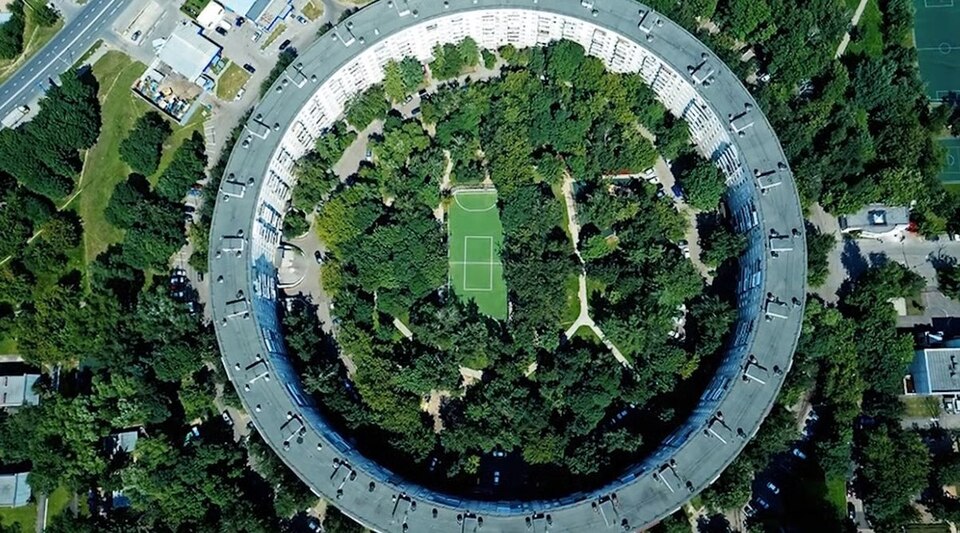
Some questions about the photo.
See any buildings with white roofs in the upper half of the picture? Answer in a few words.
Yes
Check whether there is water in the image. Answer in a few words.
No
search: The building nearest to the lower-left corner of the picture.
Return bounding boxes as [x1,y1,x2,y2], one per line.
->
[0,471,38,507]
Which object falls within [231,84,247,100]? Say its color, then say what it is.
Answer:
white vehicle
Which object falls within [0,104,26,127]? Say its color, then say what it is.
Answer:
white truck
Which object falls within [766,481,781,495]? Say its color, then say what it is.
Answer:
blue car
